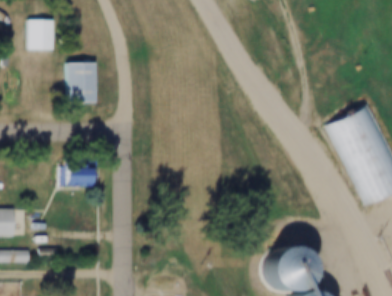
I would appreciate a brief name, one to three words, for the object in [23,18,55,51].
shed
